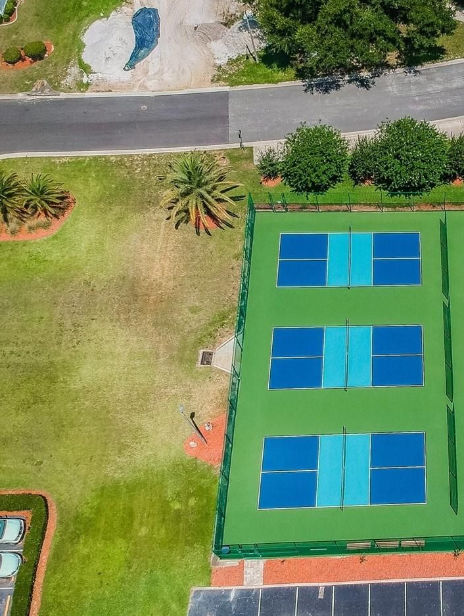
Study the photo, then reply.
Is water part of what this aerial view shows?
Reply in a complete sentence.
No, there's no water in this view.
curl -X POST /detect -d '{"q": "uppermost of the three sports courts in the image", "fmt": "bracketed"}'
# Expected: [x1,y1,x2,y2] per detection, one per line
[276,225,421,290]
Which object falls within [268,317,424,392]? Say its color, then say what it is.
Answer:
blue sports court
